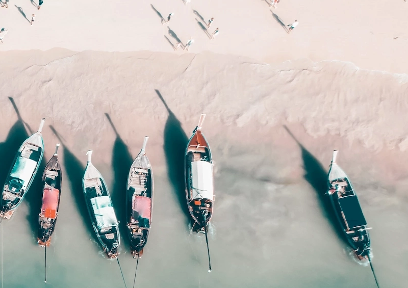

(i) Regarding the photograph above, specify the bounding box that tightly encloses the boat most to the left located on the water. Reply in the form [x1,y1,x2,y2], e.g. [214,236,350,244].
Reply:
[0,117,45,226]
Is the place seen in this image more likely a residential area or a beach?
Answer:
beach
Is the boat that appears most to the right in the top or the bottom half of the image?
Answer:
bottom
